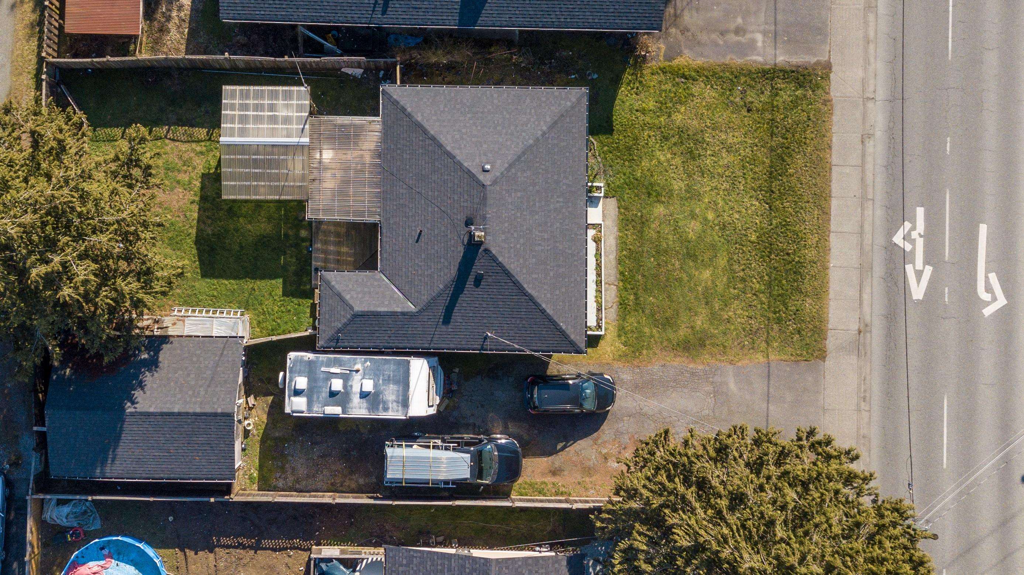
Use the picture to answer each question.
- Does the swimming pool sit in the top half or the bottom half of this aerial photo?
bottom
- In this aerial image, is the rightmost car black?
Yes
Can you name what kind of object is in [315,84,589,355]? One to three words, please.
house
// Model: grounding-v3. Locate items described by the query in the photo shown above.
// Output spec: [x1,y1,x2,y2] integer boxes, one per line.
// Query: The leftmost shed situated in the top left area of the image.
[65,0,152,46]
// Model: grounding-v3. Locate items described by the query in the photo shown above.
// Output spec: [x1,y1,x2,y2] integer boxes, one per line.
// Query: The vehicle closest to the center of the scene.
[524,371,615,417]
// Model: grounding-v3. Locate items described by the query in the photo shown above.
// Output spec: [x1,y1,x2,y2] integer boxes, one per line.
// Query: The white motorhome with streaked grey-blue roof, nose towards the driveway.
[279,351,446,420]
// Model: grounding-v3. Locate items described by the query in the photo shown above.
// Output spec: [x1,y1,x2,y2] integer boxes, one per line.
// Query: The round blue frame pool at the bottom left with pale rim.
[60,526,173,575]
